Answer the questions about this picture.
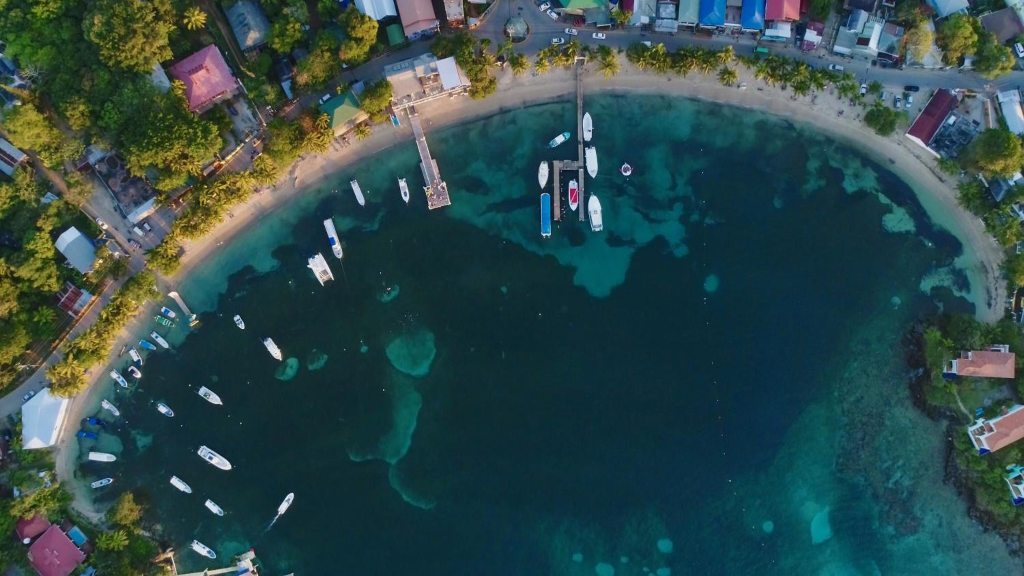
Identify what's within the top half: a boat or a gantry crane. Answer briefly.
boat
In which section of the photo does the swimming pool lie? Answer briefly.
bottom left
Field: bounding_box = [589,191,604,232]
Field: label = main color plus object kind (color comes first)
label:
white boat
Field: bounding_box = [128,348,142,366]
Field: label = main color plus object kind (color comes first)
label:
white boat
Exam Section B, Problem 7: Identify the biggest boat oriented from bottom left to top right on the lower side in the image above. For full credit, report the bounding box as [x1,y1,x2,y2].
[278,492,295,514]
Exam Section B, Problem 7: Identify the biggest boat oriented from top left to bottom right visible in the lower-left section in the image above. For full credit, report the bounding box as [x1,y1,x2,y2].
[197,445,232,470]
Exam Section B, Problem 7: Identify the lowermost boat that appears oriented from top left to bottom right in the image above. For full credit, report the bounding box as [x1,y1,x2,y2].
[188,538,216,558]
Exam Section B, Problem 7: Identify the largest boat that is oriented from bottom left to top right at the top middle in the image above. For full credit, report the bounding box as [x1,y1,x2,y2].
[548,133,570,149]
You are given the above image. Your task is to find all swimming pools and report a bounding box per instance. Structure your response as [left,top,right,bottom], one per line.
[64,518,92,559]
